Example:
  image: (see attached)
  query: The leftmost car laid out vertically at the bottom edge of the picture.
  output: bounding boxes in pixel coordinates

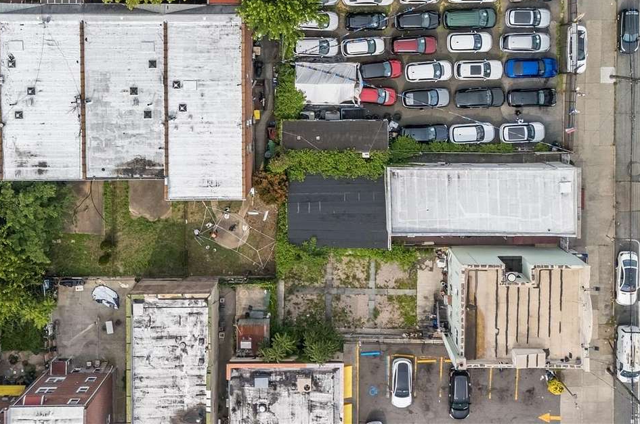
[390,356,414,408]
